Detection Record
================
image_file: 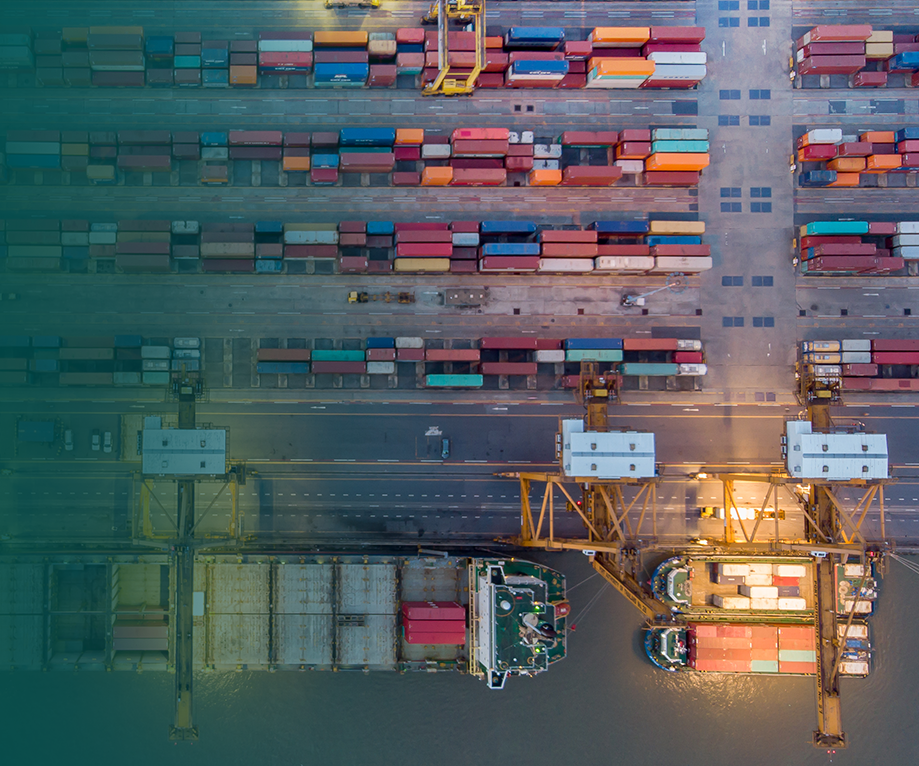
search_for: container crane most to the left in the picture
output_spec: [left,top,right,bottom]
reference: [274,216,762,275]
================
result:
[121,341,267,751]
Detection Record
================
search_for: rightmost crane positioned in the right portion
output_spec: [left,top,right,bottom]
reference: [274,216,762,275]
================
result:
[683,344,895,753]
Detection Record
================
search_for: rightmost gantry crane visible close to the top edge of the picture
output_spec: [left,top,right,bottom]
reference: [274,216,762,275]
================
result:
[422,0,490,95]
